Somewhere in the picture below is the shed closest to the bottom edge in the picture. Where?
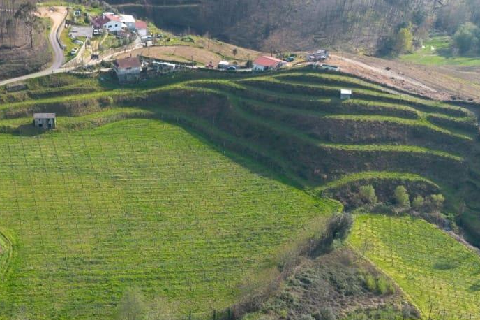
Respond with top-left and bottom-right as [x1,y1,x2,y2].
[34,111,58,130]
